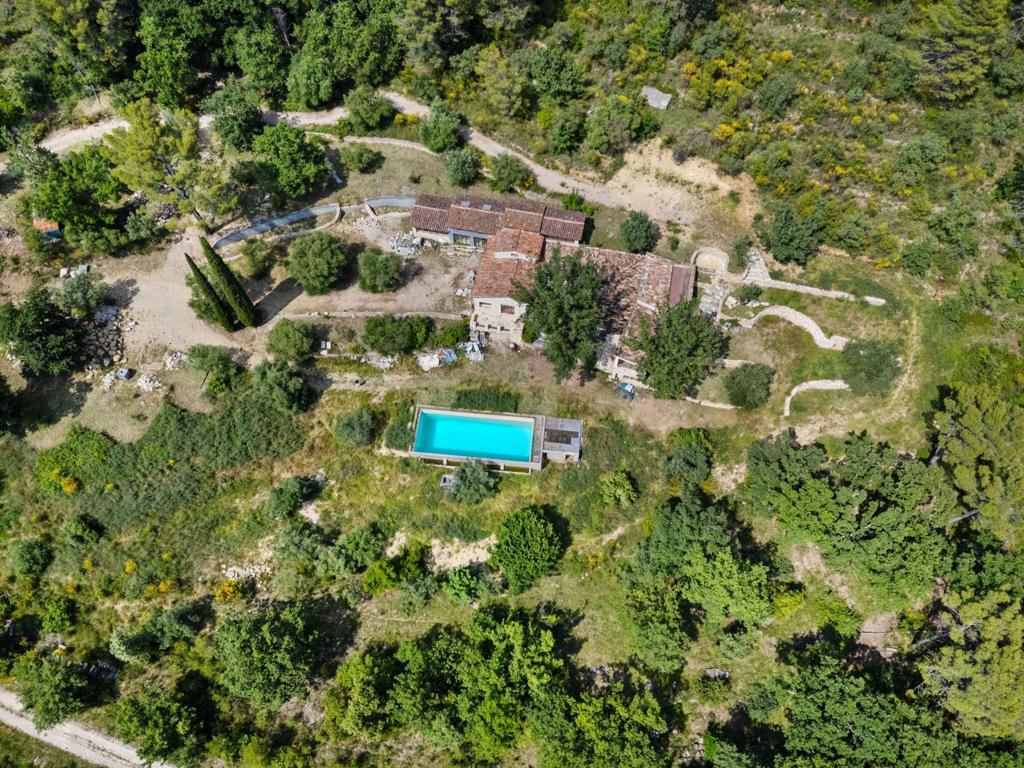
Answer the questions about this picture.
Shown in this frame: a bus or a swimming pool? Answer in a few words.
swimming pool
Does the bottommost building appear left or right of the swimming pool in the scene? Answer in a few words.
to its right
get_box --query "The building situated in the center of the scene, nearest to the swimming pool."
[543,416,584,471]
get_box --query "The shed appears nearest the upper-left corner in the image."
[34,217,65,246]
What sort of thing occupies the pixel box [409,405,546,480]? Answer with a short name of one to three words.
swimming pool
